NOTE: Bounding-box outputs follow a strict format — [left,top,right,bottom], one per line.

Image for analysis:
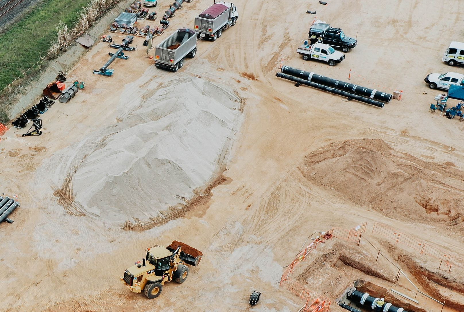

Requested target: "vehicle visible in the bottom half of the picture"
[117,242,211,301]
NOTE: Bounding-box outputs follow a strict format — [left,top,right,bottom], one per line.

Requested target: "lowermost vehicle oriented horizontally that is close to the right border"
[420,70,464,91]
